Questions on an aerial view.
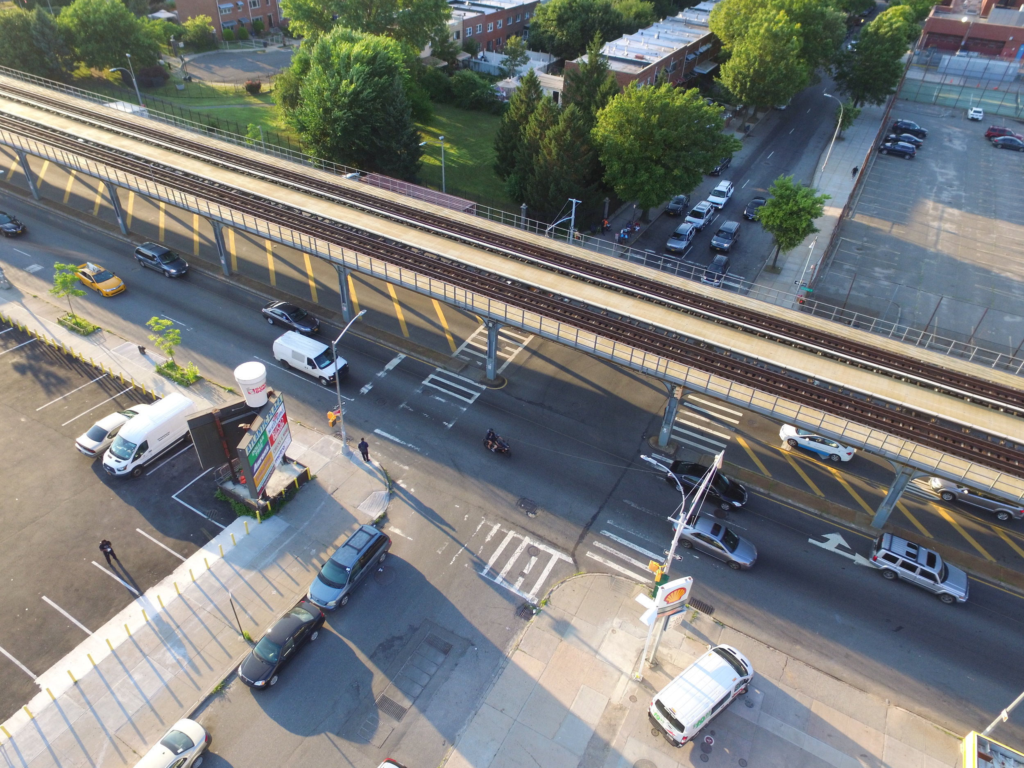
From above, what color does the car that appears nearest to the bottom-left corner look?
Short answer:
white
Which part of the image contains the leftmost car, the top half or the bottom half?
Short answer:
top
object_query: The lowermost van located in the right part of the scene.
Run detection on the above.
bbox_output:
[649,644,758,751]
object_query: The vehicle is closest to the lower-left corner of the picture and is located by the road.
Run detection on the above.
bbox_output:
[125,718,208,768]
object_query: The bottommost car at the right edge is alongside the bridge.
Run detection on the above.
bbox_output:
[875,531,979,607]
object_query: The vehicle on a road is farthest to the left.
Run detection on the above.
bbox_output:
[0,210,26,236]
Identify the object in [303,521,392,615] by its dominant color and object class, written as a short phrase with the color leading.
blue car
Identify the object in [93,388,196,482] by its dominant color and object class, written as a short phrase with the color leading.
white van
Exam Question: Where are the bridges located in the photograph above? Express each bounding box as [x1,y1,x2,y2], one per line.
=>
[0,64,1024,538]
